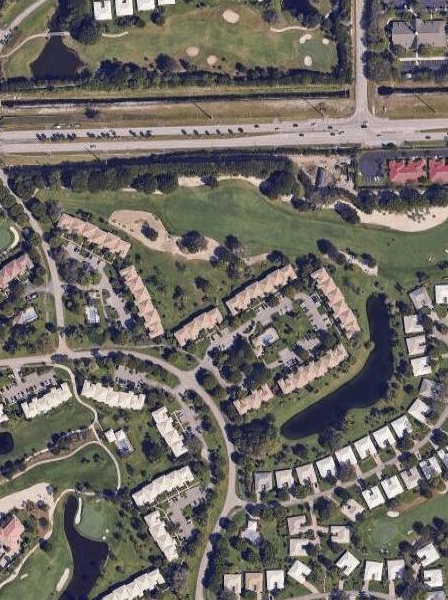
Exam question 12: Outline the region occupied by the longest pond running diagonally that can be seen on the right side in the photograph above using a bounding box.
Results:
[281,293,392,439]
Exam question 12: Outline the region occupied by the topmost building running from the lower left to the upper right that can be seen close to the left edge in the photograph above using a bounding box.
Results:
[0,255,35,292]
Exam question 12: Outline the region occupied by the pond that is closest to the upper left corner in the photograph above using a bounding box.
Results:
[31,29,86,80]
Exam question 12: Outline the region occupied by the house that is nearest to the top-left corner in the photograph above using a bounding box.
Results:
[93,0,113,20]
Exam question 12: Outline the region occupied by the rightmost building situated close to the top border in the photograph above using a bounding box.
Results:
[416,17,447,47]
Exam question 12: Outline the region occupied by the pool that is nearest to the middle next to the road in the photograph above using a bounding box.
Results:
[258,326,282,348]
